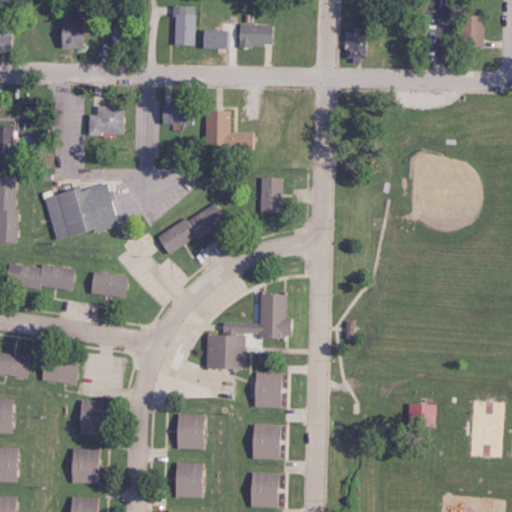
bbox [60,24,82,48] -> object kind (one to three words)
house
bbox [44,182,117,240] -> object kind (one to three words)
building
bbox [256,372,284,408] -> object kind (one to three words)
house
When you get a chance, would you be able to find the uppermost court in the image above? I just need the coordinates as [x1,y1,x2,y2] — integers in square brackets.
[470,400,506,458]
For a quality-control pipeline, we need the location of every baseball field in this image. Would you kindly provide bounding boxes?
[403,150,484,232]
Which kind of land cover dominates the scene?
grass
